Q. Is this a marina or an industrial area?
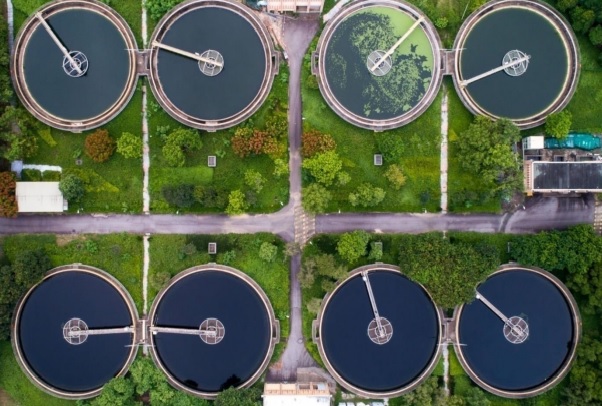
industrial area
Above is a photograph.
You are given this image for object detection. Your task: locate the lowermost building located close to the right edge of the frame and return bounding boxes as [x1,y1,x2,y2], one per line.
[517,162,602,194]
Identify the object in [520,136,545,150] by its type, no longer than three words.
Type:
shed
